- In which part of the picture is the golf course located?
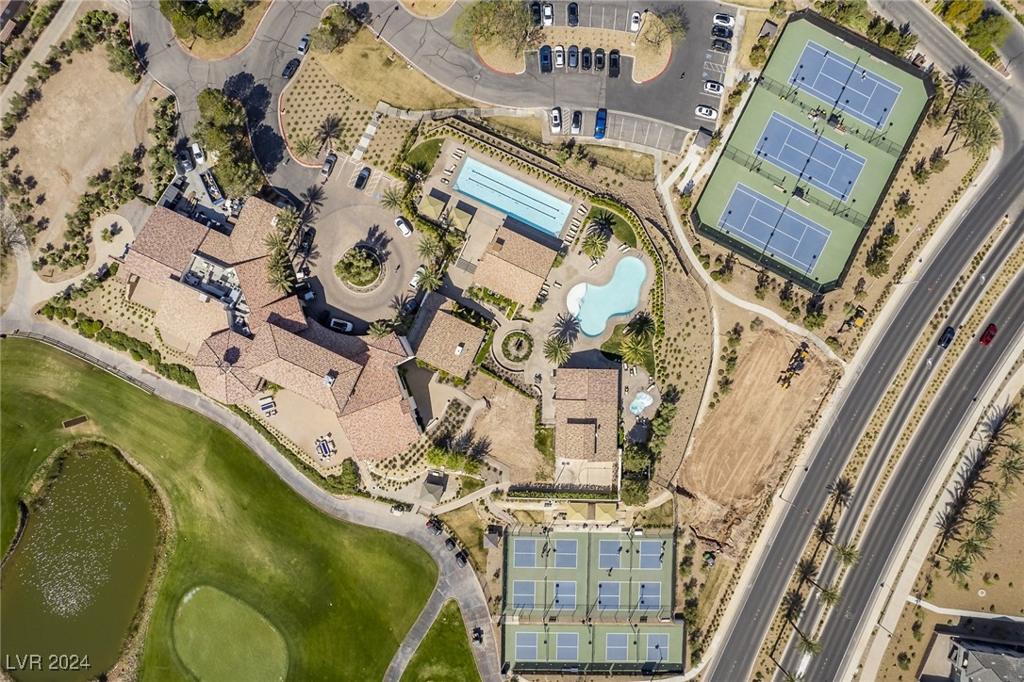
bottom left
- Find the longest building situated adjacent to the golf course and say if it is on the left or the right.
left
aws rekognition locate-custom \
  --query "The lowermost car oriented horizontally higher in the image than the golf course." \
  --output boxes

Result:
[330,319,353,332]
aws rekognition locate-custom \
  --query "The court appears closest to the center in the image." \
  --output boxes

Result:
[555,458,613,491]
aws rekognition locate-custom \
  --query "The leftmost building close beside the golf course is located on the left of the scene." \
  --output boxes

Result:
[124,197,424,460]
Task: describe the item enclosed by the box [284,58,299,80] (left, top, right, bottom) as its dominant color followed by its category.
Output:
black car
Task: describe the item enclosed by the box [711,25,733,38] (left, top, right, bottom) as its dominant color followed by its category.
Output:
black vehicle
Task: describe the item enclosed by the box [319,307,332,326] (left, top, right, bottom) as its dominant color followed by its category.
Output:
black vehicle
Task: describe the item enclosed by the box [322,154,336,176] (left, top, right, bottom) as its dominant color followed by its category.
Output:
gray car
